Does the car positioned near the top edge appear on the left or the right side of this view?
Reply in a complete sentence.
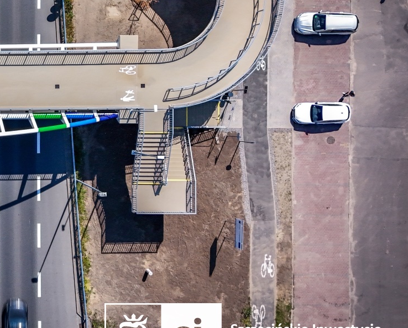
The car positioned near the top edge is on the right side of the image.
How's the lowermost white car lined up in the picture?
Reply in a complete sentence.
The lowermost white car is laid out from left to right.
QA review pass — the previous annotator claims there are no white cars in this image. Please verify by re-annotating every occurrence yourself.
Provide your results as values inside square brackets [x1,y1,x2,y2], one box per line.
[292,99,348,126]
[297,8,359,36]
